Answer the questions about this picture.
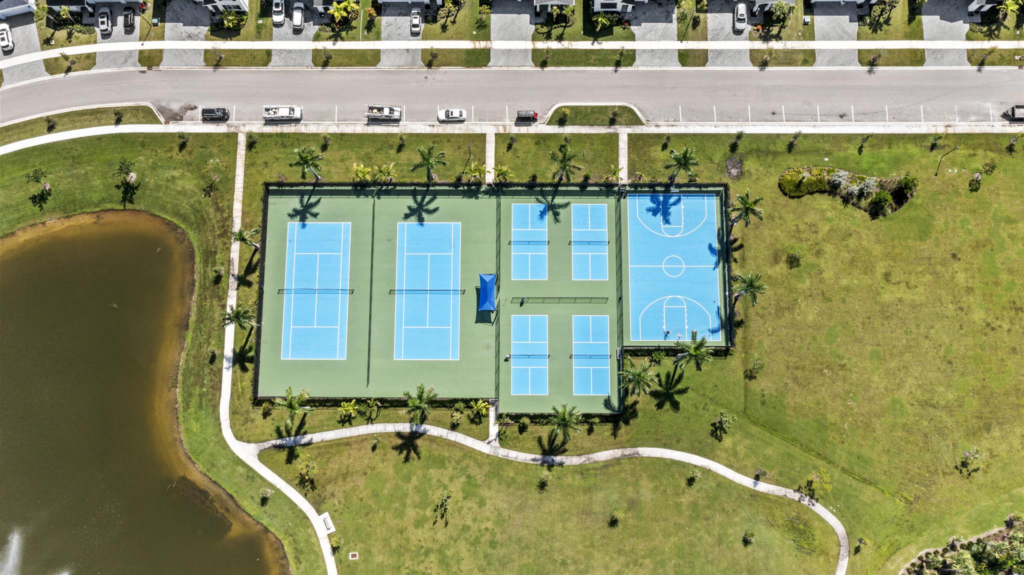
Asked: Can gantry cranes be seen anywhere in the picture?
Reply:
No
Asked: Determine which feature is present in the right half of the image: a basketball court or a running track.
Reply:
basketball court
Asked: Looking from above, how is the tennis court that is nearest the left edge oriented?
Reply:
from top to bottom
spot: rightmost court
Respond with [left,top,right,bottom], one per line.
[627,194,721,341]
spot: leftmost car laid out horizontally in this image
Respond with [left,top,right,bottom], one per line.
[200,107,229,121]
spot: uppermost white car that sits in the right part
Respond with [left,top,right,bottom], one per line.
[734,6,748,32]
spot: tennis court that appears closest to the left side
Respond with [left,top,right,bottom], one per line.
[281,222,351,360]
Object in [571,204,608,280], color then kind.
blue sports court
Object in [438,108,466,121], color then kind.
white vehicle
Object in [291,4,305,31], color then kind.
white vehicle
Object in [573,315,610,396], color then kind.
blue sports court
